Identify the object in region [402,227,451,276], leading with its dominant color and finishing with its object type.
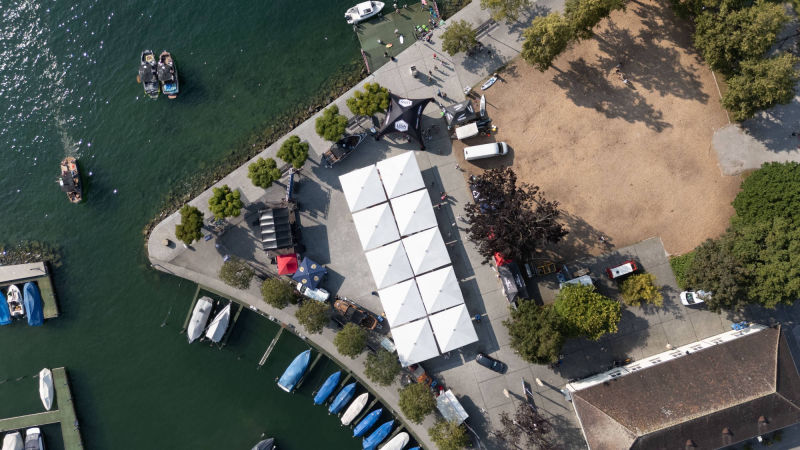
white tent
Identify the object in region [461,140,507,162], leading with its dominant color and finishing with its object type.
white vehicle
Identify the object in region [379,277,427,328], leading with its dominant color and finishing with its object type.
white tent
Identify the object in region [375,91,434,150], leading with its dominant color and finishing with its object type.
black tent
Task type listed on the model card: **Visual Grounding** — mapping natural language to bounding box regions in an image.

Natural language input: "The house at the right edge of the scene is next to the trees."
[566,323,800,450]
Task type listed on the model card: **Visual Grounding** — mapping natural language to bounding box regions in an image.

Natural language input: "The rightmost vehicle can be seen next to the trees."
[677,289,712,306]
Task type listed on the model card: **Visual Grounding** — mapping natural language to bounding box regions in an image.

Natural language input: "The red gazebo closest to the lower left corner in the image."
[277,254,298,275]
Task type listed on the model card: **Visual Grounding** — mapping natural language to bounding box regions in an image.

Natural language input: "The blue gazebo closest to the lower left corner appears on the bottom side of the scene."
[293,255,329,289]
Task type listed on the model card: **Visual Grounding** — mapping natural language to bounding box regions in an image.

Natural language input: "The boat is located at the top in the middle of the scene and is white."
[343,0,384,24]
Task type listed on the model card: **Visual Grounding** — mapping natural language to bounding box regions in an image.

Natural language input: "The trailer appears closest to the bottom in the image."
[437,384,469,423]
